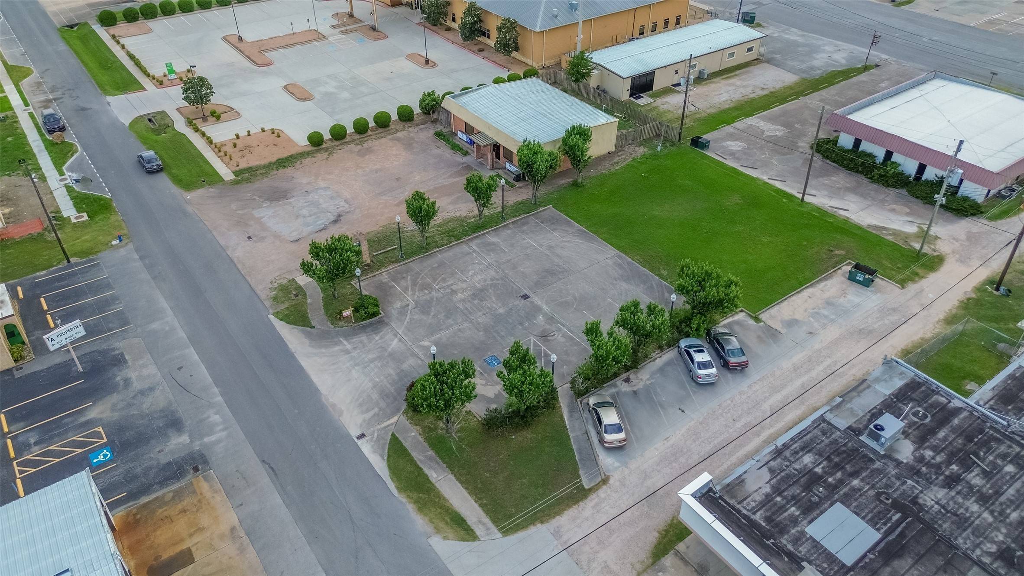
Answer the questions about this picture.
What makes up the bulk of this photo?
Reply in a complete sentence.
For the most part, this view shows paved ground.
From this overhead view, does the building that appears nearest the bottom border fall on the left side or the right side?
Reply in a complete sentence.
The building that appears nearest the bottom border sits on the left side.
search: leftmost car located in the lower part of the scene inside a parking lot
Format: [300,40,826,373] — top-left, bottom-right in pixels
[591,398,630,453]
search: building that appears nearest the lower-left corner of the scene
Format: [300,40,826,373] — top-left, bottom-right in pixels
[0,470,131,576]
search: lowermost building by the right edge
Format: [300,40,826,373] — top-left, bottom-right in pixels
[673,355,1024,576]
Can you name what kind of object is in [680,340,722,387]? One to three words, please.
car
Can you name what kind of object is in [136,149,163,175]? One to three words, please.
car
